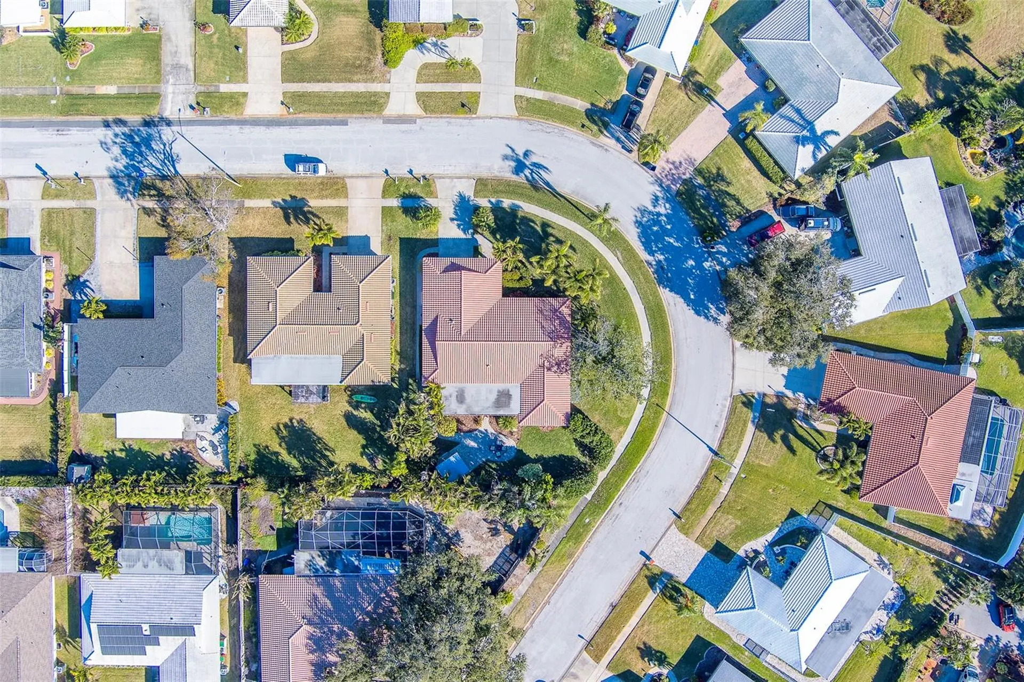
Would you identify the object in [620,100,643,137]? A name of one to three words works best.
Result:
truck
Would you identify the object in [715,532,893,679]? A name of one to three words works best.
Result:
house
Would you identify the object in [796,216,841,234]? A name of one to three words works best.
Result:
vehicle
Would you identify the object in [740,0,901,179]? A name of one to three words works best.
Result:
house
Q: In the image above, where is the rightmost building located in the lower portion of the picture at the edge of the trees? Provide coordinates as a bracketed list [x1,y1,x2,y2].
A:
[817,350,993,520]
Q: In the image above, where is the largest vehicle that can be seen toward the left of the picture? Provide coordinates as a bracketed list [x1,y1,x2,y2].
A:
[295,160,329,177]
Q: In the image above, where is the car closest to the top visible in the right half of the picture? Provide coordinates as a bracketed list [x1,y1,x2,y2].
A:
[634,64,657,100]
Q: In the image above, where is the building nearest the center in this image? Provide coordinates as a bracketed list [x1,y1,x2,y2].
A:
[422,257,571,427]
